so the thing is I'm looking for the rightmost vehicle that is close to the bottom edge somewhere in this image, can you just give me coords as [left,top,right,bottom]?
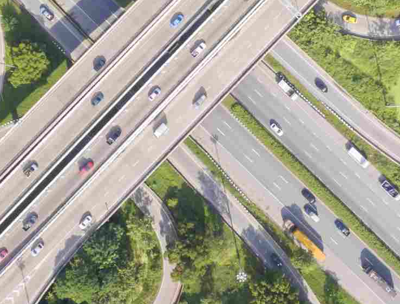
[359,260,398,299]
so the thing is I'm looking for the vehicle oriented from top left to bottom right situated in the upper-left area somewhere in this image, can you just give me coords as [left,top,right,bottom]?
[40,5,55,22]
